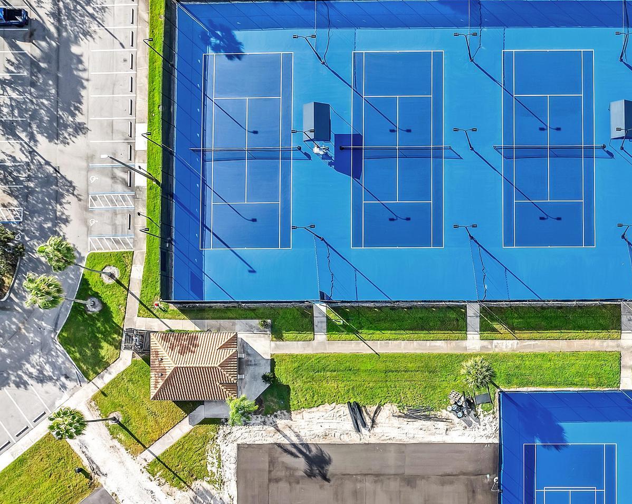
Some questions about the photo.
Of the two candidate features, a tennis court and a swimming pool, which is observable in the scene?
tennis court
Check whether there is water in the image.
No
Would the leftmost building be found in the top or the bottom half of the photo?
bottom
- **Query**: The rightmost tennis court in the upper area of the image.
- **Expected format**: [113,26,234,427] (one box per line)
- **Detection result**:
[496,50,605,248]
